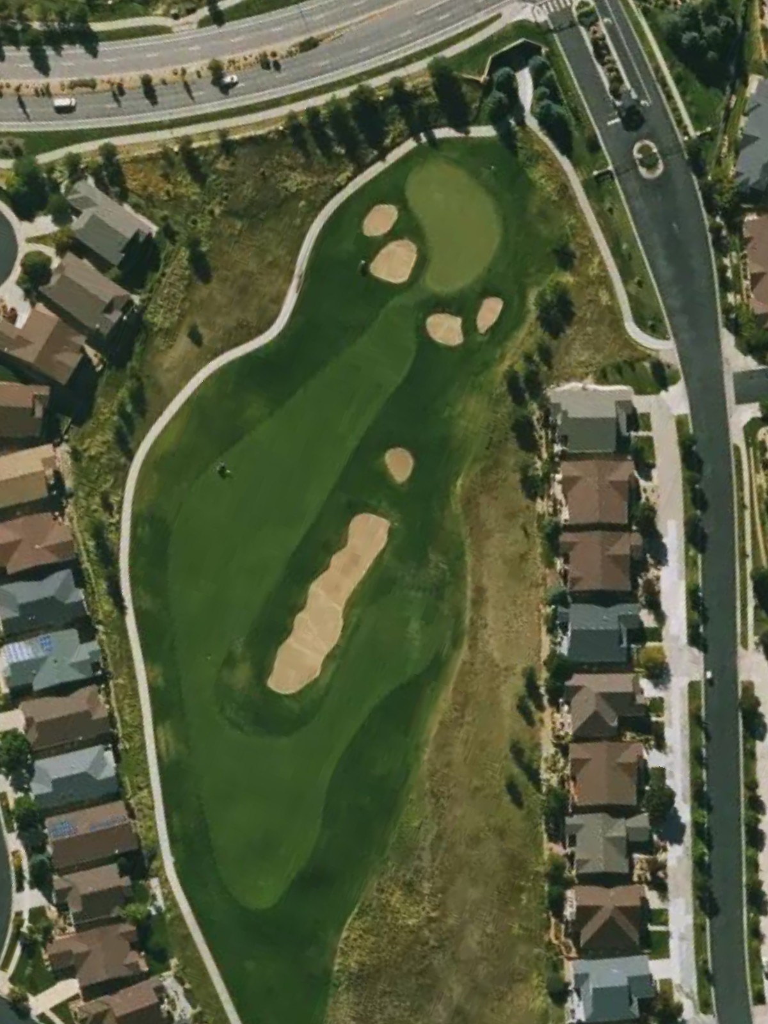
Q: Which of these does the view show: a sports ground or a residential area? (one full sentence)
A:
The picture captures a residential area.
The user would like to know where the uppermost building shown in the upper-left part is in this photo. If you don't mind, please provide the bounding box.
[67,177,159,260]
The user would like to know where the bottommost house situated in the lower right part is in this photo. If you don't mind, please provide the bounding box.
[574,958,654,1024]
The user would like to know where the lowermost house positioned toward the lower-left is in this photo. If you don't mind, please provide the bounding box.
[75,977,168,1024]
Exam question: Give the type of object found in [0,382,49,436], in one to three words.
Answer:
house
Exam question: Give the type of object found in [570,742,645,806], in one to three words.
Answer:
house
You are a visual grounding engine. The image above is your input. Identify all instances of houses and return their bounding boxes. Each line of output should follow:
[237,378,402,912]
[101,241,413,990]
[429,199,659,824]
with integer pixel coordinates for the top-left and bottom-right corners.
[561,531,643,591]
[0,570,86,638]
[566,813,651,875]
[28,747,121,811]
[44,801,137,870]
[0,382,49,436]
[574,958,654,1024]
[558,603,642,663]
[0,303,102,379]
[0,443,56,508]
[551,388,633,451]
[0,510,76,575]
[67,177,159,260]
[572,886,646,951]
[562,458,635,523]
[23,689,110,752]
[567,674,648,737]
[45,256,141,335]
[0,630,103,692]
[45,919,146,984]
[75,977,168,1024]
[570,742,645,806]
[50,863,132,927]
